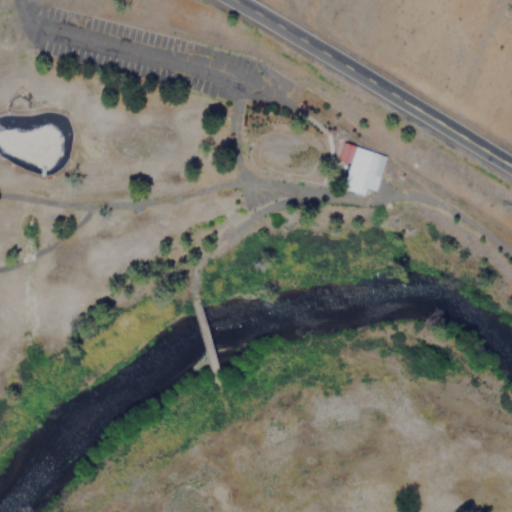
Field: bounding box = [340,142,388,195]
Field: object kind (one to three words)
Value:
building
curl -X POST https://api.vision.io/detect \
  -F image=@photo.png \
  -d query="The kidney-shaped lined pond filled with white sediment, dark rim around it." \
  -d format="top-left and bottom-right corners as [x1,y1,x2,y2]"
[0,112,73,175]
